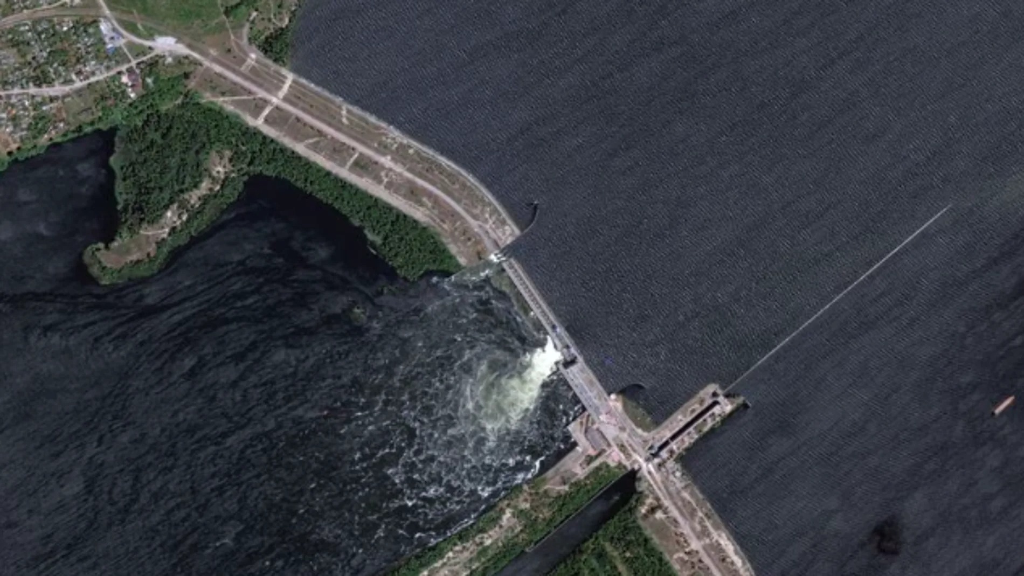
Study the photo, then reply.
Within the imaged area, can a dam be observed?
Yes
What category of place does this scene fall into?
port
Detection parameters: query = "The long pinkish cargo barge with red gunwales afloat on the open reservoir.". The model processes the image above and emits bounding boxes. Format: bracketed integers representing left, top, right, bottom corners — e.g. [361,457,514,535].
[994,397,1014,416]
